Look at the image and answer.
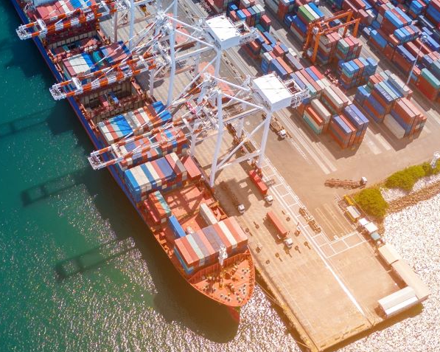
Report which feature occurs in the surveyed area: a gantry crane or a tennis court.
gantry crane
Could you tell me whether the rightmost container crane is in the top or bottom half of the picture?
top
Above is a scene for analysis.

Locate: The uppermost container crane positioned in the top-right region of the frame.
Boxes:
[302,8,363,66]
